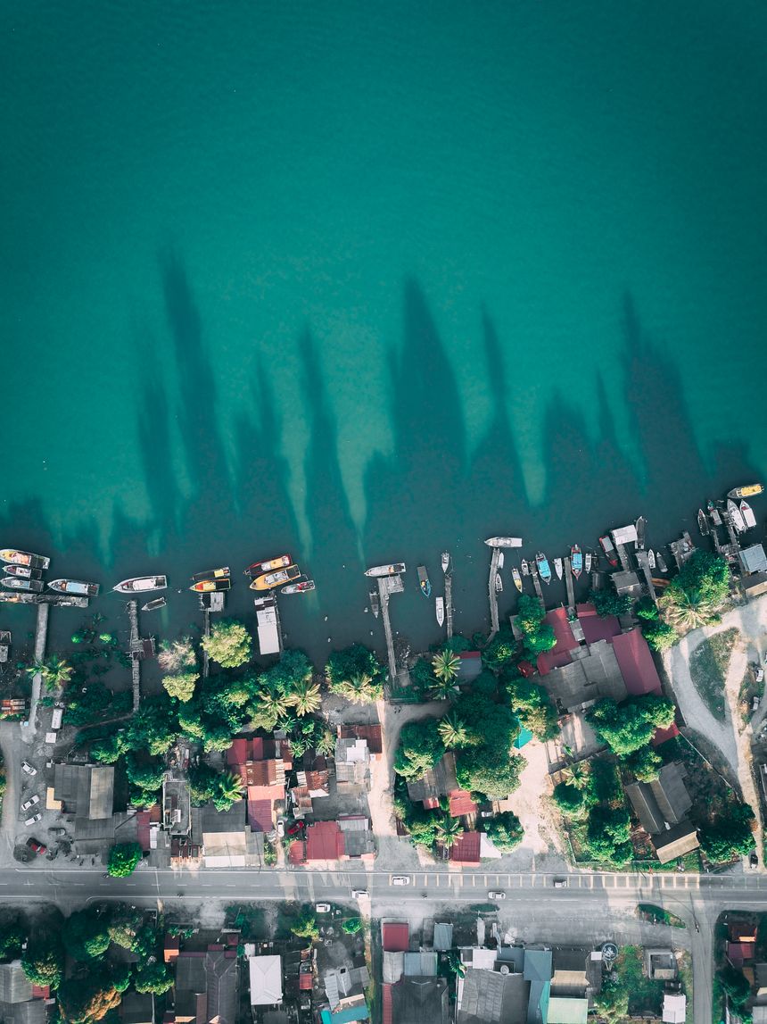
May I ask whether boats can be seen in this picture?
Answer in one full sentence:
Yes, this view includes a boat.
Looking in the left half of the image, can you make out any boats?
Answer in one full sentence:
Yes, a boat appears in the left half of the image.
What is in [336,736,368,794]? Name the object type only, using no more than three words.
house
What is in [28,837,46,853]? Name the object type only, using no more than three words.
car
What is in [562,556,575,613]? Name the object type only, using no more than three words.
pier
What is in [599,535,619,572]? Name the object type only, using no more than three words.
boat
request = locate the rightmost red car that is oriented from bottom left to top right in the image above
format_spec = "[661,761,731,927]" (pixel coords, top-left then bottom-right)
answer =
[287,820,304,834]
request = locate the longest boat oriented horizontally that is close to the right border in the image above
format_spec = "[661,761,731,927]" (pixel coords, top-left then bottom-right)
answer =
[716,484,765,502]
